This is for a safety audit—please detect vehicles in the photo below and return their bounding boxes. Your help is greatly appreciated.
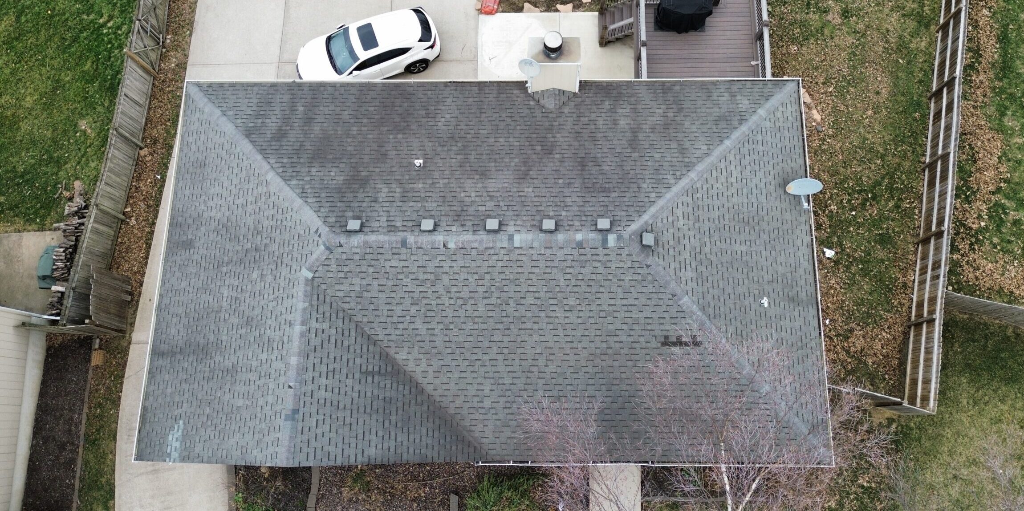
[298,8,445,79]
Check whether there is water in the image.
No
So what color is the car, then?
white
